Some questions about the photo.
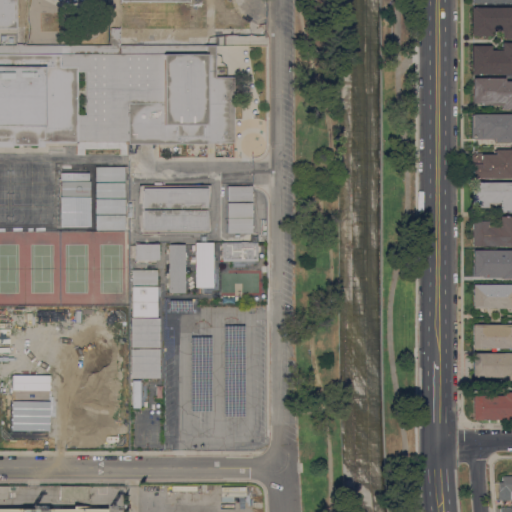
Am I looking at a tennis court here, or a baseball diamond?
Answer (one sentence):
The one in the frame is a tennis court.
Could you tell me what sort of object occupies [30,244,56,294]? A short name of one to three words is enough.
tennis court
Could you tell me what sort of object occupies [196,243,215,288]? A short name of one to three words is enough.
building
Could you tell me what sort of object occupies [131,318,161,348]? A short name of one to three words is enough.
shed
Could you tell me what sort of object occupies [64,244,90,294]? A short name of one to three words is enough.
tennis court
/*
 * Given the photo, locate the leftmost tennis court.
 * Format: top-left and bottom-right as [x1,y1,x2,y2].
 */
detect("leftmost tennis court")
[0,244,22,294]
